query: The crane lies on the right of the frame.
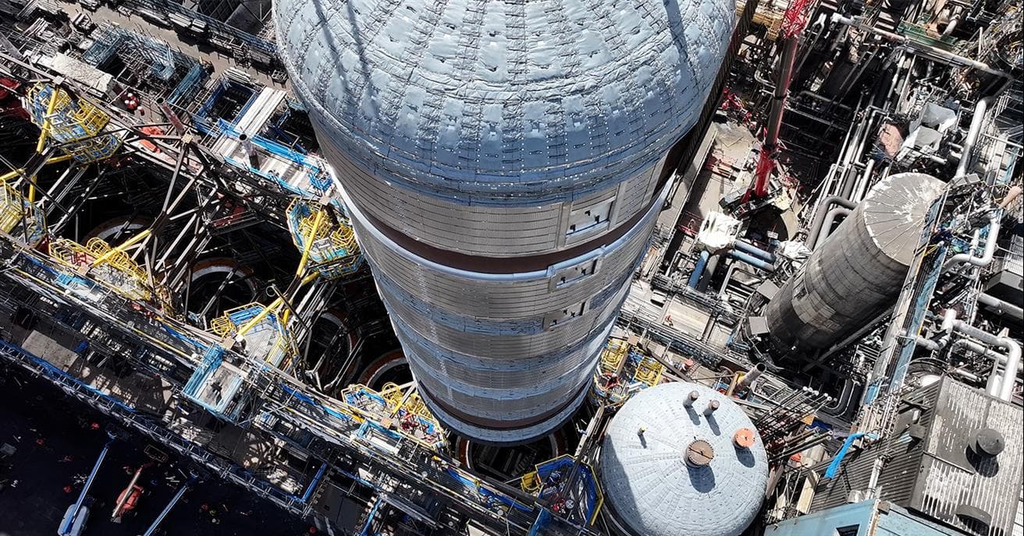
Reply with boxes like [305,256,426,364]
[689,0,815,234]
